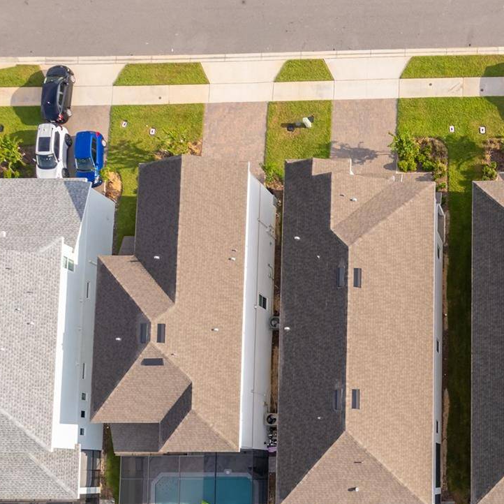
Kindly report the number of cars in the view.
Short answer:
3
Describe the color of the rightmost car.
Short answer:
blue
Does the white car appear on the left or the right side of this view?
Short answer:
left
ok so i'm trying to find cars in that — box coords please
[31,121,68,177]
[69,128,103,185]
[37,65,74,125]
